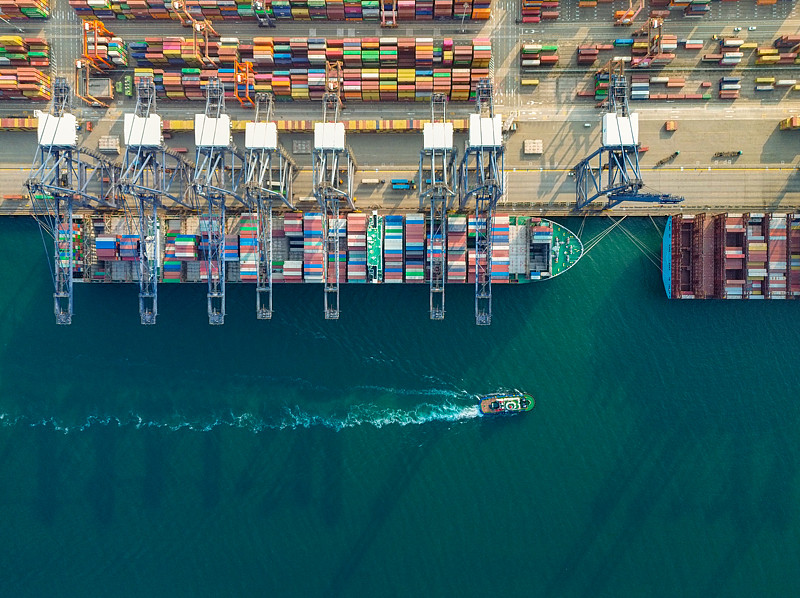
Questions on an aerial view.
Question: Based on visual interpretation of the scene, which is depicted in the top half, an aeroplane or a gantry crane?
gantry crane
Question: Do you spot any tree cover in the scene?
No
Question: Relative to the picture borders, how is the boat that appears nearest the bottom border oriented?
horizontally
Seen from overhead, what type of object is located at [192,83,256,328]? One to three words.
container crane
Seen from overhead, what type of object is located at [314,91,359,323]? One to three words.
container crane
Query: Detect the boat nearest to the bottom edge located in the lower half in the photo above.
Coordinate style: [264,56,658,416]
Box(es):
[478,392,534,414]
